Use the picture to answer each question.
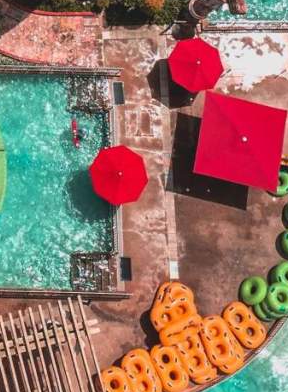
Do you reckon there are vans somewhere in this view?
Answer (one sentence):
No, I can't see a single van in this photo.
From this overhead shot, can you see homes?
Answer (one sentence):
No, I can't see a single home in this photo.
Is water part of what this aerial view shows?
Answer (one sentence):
Yes, water shows up in the scene.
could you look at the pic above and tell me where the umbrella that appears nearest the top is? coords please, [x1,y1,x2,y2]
[167,37,223,93]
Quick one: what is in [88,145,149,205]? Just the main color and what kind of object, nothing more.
red umbrella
